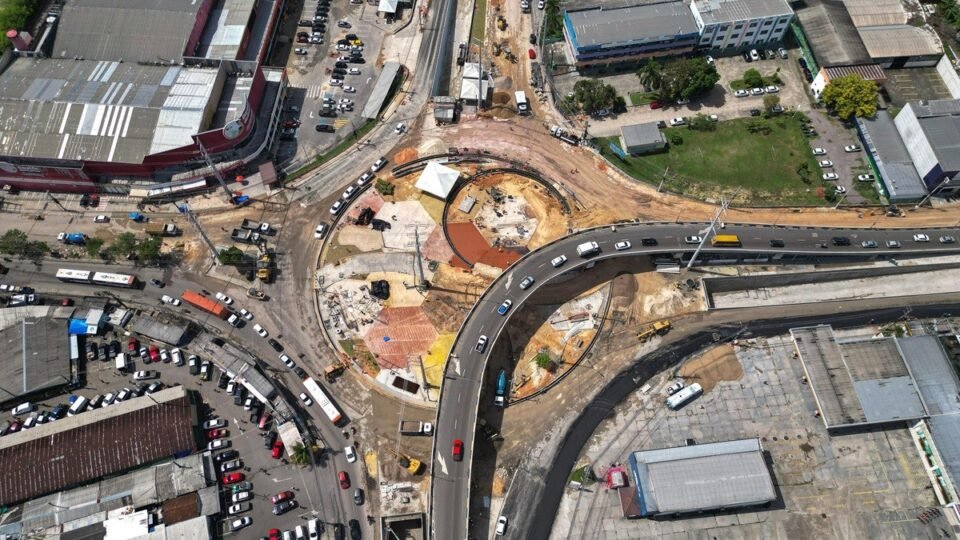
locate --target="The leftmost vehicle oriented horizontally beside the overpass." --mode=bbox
[398,420,433,434]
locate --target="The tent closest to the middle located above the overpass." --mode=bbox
[415,162,460,199]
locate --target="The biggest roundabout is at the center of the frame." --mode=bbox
[312,154,612,413]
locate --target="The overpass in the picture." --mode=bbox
[432,218,960,540]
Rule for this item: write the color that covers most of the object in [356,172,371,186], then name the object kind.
white car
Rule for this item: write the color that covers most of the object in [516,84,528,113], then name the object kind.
white vehicle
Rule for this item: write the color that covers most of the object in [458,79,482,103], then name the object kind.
white tent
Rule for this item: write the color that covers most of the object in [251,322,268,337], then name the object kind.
white car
